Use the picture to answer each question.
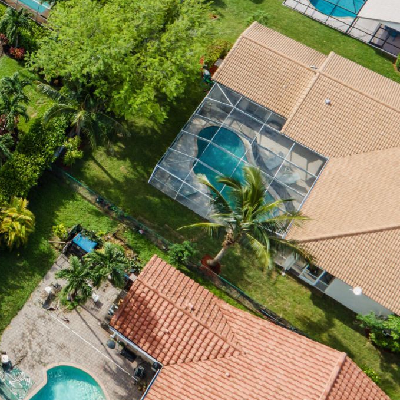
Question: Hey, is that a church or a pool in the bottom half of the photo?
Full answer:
What appears in the bottom half of the photo is a pool.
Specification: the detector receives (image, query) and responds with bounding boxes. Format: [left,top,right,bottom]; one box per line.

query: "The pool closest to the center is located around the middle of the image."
[190,122,278,215]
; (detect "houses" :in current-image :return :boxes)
[209,21,400,315]
[352,0,400,60]
[106,254,391,400]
